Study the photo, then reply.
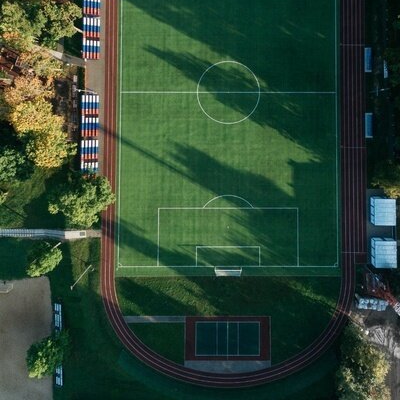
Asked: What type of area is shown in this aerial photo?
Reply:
sports ground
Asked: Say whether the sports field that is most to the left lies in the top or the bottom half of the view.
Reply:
bottom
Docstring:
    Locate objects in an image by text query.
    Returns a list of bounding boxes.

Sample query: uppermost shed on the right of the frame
[370,197,397,227]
